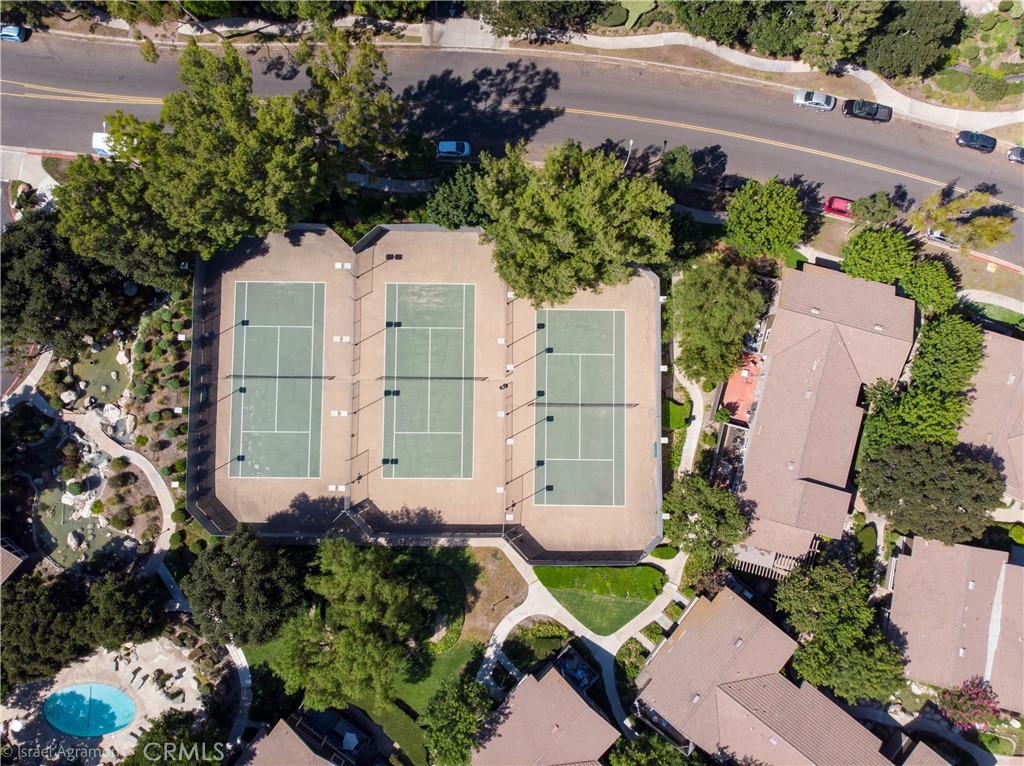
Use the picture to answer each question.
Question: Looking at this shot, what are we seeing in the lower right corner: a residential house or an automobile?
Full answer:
Looking in the lower right corner, you will find a residential house.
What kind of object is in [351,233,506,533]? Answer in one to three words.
tennis court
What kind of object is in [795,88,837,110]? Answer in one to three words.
car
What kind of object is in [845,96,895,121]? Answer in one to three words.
truck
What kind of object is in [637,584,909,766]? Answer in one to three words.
house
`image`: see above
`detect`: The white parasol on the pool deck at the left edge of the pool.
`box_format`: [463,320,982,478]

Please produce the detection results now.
[9,716,32,734]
